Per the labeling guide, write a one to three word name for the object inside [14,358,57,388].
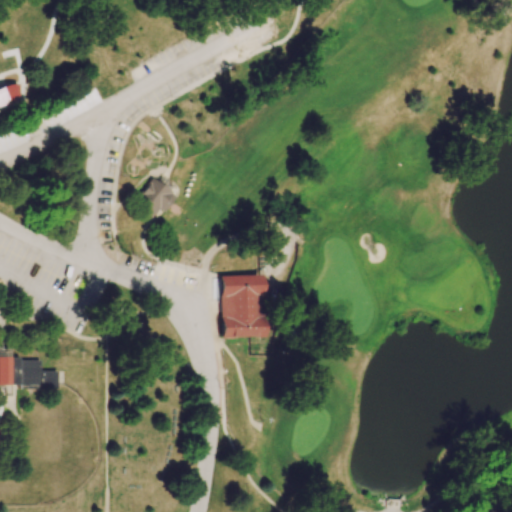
shed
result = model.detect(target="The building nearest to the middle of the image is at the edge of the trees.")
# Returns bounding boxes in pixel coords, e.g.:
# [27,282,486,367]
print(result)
[222,274,271,338]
